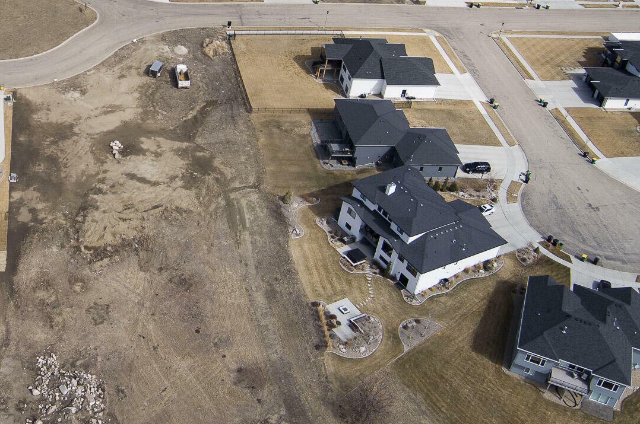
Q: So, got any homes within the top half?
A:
Yes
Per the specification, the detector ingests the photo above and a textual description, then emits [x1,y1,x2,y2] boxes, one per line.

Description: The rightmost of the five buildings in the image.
[578,31,640,109]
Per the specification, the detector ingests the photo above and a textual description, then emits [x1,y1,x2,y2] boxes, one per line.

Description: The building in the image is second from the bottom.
[336,166,508,299]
